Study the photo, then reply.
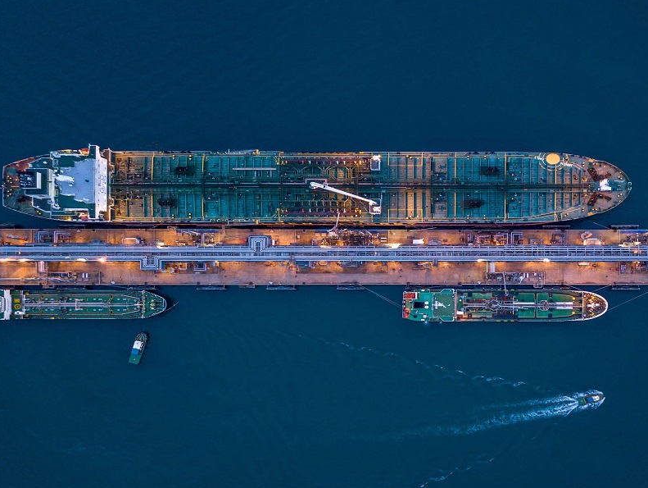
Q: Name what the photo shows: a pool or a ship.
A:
ship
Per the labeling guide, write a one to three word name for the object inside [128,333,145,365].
boat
